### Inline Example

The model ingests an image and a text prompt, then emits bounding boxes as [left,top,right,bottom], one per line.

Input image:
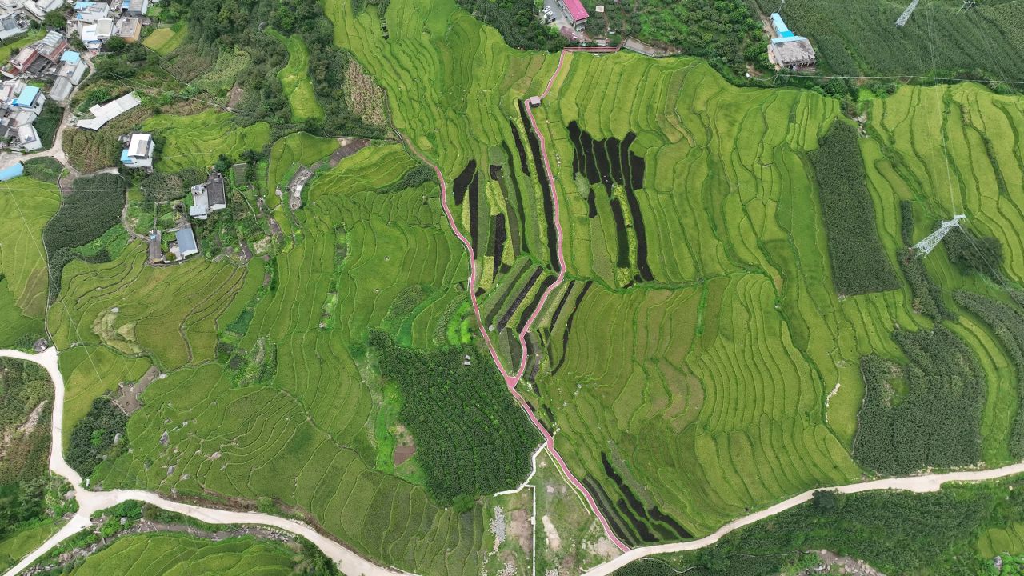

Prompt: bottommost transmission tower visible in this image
[911,217,969,262]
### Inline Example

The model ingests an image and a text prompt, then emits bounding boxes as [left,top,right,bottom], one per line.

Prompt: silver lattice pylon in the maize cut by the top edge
[894,0,920,29]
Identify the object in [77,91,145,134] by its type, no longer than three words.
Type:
shed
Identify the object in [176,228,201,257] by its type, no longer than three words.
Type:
barn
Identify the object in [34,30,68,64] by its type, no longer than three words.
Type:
house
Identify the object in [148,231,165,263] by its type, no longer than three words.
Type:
barn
